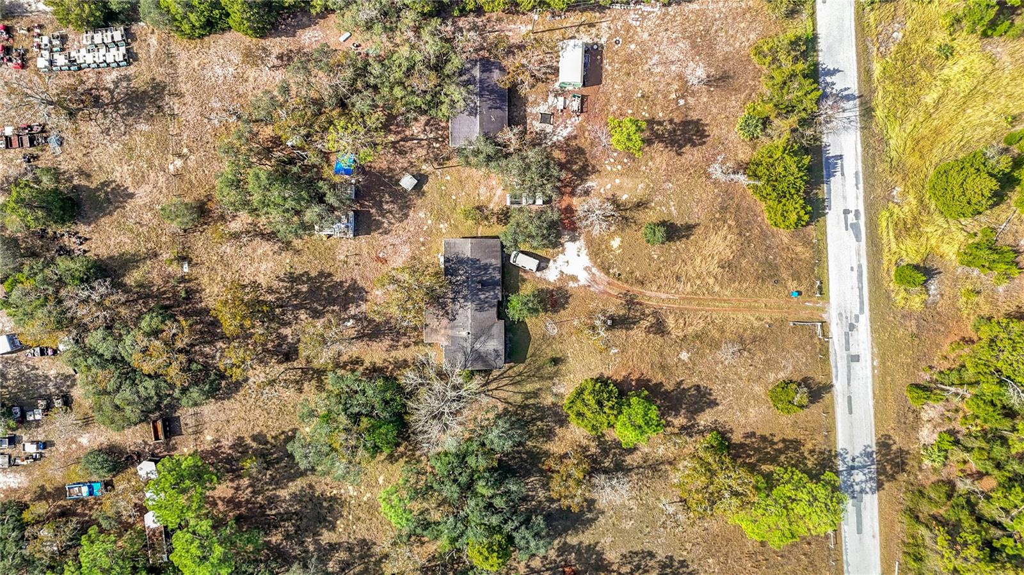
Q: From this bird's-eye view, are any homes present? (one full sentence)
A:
Yes, the frame does contain a home.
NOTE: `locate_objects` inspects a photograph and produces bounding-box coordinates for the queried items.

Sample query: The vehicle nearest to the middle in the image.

[509,252,541,272]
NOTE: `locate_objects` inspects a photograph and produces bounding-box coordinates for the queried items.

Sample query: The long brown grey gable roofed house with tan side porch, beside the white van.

[424,238,505,370]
